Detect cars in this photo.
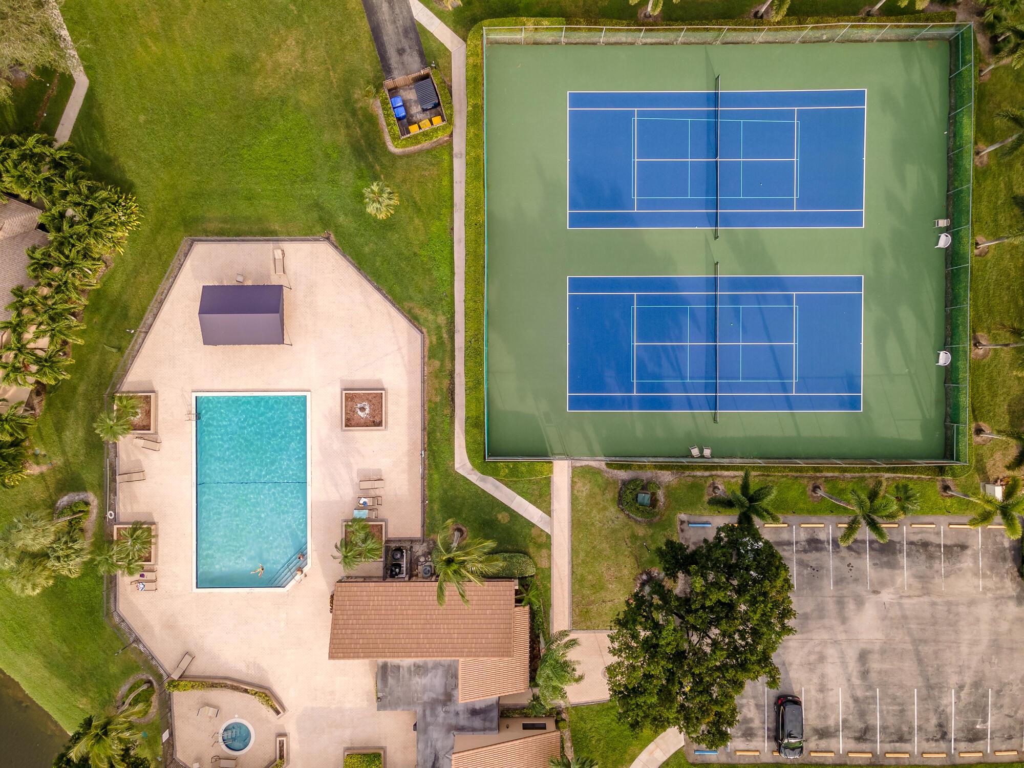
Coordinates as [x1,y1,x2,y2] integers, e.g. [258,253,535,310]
[776,700,805,757]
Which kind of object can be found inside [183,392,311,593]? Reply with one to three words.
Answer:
swimming pool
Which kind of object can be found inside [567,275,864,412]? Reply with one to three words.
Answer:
tennis court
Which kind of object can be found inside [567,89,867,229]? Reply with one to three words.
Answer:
tennis court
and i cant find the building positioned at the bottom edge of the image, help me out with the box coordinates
[327,577,561,768]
